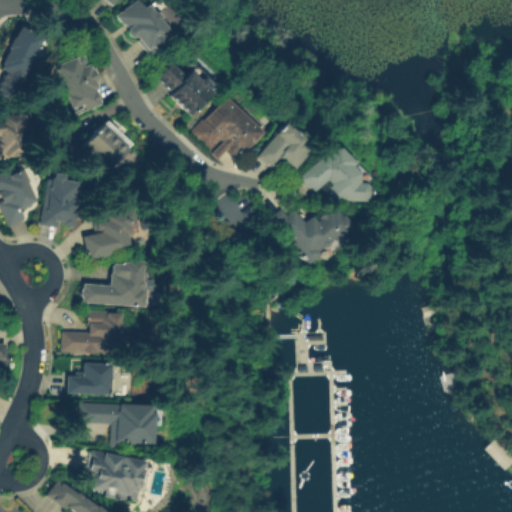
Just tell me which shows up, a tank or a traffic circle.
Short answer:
traffic circle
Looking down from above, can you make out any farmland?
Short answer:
No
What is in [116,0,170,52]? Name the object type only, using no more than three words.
house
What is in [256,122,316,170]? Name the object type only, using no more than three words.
house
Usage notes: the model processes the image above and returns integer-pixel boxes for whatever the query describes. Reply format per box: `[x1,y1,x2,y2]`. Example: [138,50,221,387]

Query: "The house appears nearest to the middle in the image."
[275,206,354,264]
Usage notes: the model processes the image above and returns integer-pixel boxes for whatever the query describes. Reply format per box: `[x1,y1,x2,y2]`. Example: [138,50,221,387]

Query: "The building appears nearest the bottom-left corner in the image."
[45,480,106,512]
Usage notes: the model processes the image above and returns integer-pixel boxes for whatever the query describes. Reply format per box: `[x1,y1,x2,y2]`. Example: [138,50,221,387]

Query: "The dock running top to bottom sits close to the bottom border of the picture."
[278,318,351,512]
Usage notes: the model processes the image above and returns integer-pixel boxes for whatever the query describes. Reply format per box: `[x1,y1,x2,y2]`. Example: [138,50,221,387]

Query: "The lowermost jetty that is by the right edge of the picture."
[486,440,512,470]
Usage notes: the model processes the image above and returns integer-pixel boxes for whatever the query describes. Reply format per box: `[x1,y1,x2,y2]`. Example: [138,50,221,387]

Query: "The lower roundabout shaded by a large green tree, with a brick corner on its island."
[0,437,48,494]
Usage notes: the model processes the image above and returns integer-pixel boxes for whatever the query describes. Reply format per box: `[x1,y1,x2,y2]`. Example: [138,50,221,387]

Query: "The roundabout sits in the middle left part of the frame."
[10,246,60,300]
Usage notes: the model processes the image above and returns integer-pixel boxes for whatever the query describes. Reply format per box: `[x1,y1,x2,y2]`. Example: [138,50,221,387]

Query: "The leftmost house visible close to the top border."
[0,26,44,99]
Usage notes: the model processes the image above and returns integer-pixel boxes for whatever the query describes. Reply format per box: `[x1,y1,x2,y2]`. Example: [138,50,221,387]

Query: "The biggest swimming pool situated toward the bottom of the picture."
[151,472,166,496]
